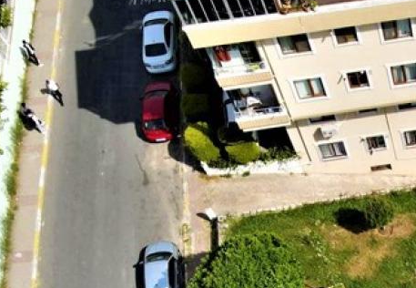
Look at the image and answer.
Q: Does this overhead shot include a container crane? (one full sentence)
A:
No, no container crane is visible in the scene.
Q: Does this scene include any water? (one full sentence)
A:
No, the picture contains no water.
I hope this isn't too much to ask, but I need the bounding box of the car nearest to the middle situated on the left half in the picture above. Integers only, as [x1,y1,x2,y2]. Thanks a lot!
[136,82,178,148]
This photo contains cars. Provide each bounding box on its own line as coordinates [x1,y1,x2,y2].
[136,82,178,148]
[139,13,180,79]
[139,240,183,288]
